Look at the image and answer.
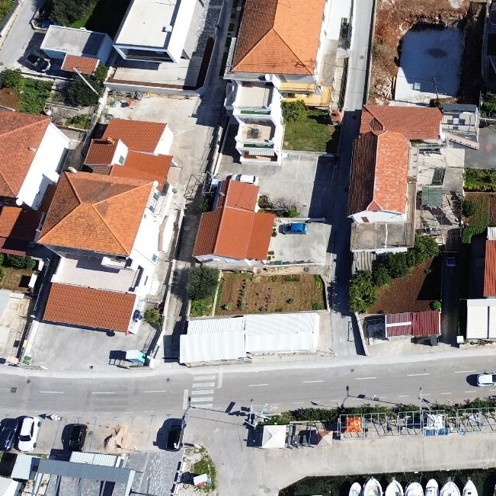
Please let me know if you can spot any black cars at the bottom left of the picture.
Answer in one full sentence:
Yes, there is a black car at the bottom left of the picture.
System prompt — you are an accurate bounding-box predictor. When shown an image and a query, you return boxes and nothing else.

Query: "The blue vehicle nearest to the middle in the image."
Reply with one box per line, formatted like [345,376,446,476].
[282,219,307,233]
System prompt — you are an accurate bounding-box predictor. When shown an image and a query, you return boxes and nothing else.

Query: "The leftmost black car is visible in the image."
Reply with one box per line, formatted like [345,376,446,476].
[0,419,20,450]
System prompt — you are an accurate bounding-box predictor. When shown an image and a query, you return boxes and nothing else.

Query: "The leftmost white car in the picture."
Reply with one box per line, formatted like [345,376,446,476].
[14,416,40,450]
